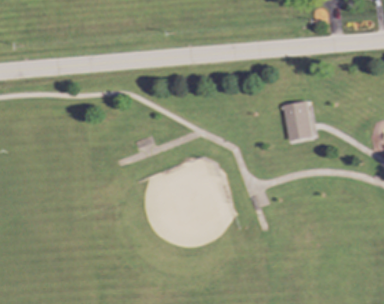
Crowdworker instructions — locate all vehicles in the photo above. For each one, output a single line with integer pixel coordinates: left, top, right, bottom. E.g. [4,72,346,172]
[335,8,340,19]
[376,0,382,6]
